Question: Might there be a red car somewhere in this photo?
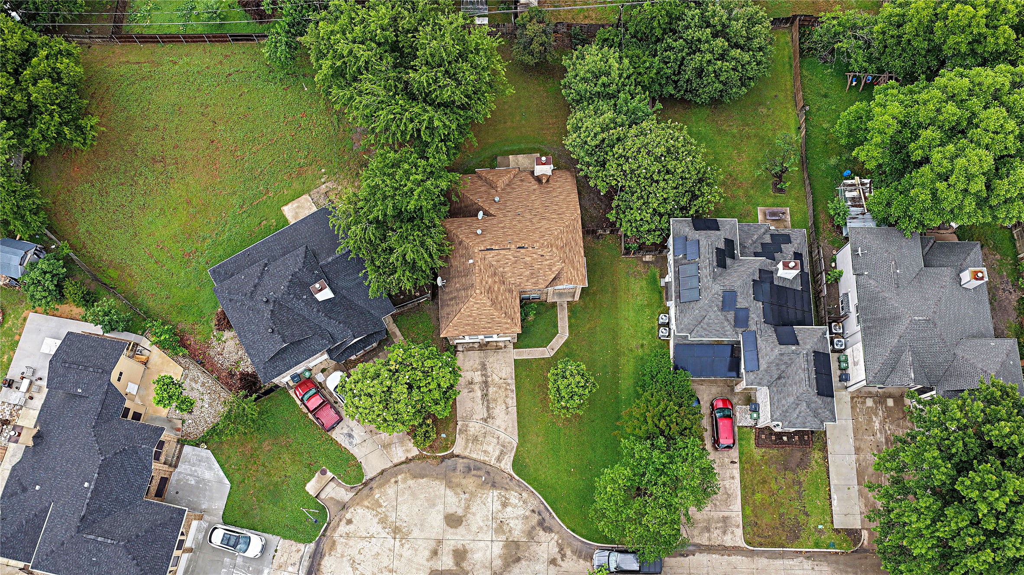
Yes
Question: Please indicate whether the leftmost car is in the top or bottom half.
bottom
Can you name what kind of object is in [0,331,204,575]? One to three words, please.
house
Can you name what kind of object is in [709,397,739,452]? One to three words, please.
car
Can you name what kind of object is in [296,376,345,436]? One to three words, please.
truck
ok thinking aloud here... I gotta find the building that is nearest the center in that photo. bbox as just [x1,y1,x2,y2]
[438,156,588,345]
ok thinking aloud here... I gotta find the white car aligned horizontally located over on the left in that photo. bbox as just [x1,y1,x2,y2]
[202,521,270,560]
